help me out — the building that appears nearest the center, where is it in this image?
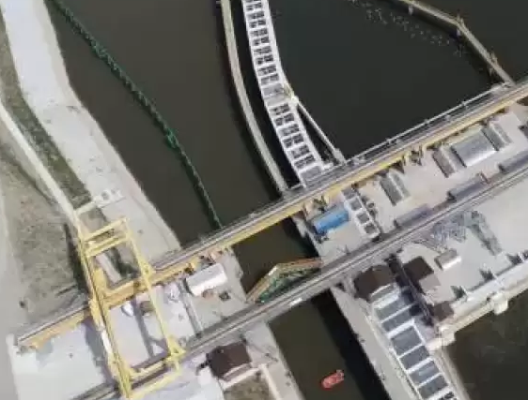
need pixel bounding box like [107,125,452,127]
[188,266,230,300]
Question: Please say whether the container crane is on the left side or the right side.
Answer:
left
